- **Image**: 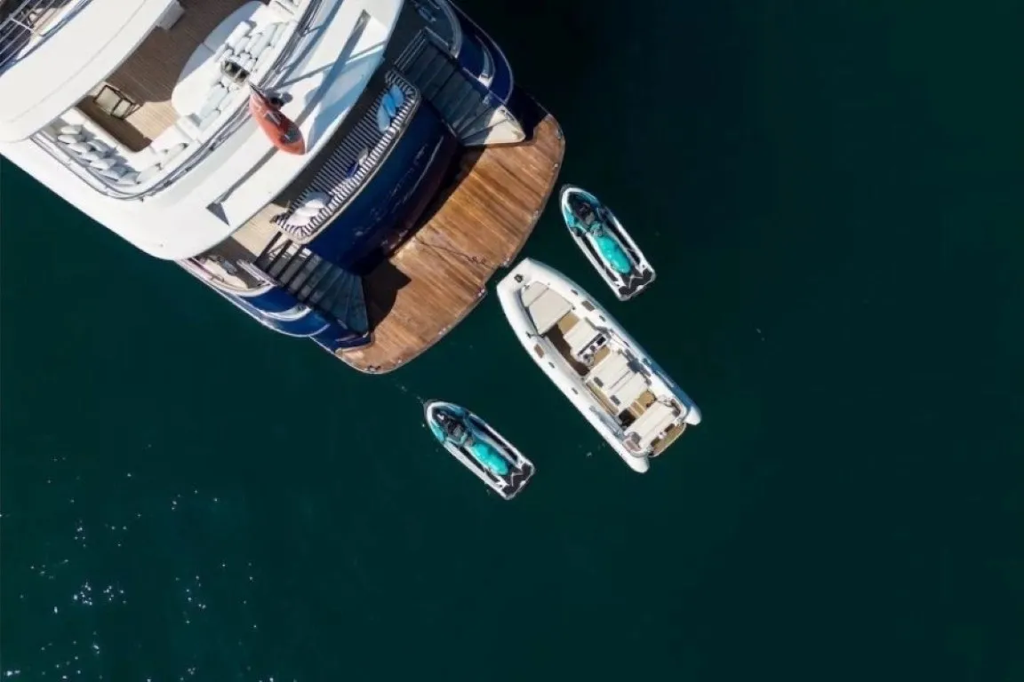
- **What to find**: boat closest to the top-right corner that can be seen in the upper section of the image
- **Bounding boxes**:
[562,185,655,300]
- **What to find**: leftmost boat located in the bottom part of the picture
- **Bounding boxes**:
[424,401,534,501]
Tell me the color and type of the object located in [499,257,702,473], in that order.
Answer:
white boat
